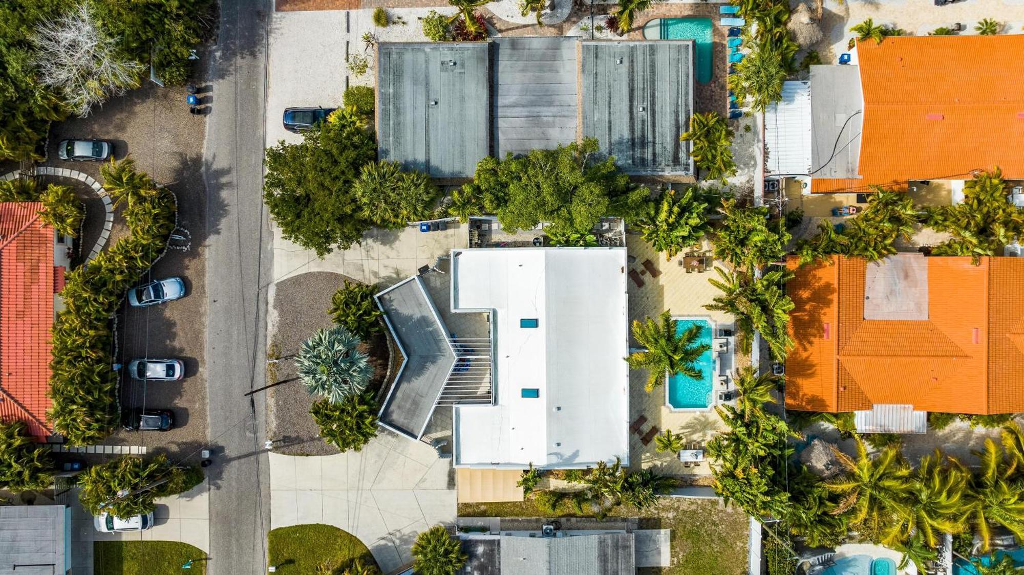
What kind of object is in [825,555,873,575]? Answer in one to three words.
swimming pool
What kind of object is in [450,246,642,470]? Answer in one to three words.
house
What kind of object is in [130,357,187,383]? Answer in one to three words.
car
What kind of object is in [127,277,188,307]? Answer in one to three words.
car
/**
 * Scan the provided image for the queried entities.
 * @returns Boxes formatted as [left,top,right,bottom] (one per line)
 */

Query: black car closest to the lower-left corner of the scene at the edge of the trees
[123,408,178,434]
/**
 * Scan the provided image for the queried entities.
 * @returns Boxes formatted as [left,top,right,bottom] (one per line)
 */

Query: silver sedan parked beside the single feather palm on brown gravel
[59,136,115,162]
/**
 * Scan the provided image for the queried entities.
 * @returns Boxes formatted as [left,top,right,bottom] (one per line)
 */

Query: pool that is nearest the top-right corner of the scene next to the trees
[643,16,715,86]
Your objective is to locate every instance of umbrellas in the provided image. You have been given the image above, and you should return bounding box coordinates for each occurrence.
[798,435,839,475]
[779,4,823,48]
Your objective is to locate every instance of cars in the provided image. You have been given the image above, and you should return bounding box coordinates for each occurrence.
[59,136,115,162]
[127,277,188,307]
[130,357,187,383]
[123,408,178,434]
[97,509,156,538]
[282,104,338,132]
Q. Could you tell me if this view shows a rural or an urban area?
urban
